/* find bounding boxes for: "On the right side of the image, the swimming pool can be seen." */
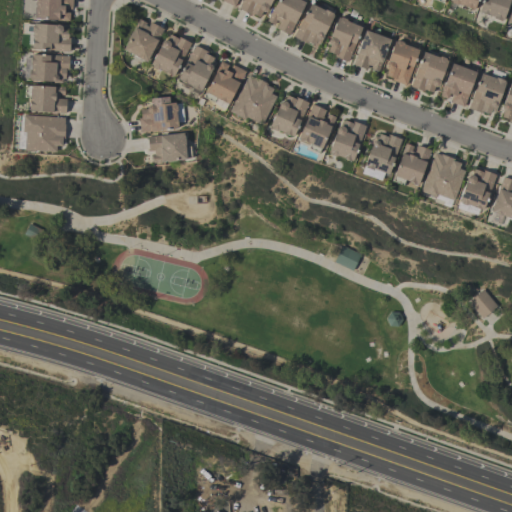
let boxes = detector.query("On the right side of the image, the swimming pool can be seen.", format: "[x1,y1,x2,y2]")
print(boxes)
[296,144,319,160]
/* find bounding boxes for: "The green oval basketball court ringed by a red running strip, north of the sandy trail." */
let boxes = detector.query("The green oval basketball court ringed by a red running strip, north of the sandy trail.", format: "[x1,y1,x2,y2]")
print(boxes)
[112,249,208,304]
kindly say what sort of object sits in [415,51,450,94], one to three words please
house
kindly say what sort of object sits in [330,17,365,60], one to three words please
house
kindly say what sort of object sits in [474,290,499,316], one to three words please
building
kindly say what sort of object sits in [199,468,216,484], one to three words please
camper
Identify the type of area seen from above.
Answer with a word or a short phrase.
residential area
